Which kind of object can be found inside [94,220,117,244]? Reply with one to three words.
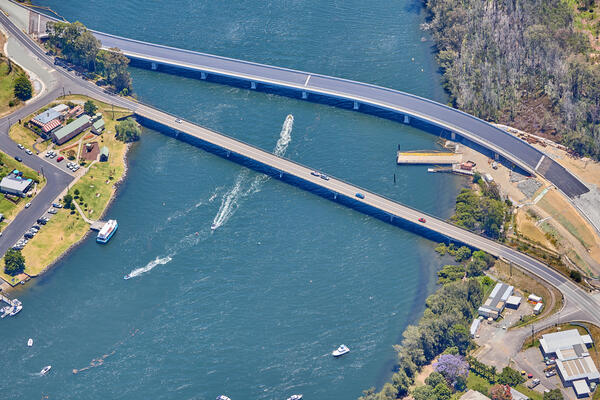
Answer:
ship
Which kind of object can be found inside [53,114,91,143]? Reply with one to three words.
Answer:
building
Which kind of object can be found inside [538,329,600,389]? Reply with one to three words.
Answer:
building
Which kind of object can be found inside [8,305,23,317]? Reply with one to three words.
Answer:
boat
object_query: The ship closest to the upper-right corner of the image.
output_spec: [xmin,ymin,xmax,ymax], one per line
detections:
[399,152,462,165]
